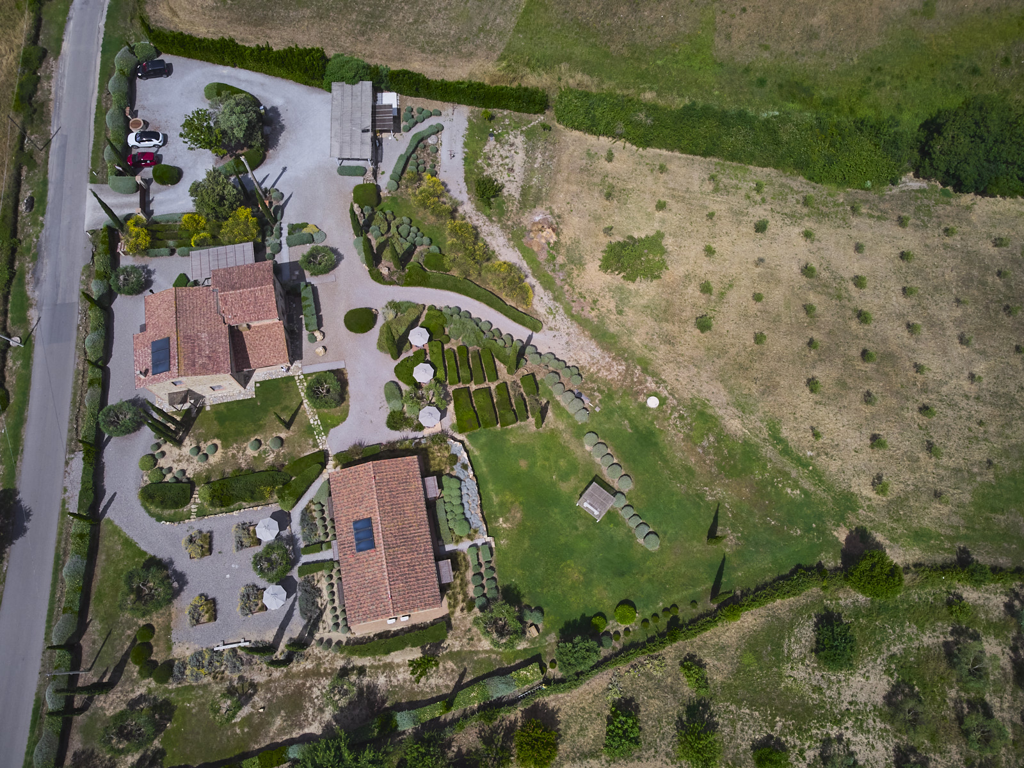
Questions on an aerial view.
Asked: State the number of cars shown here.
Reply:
3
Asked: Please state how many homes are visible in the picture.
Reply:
2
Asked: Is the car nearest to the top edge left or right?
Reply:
left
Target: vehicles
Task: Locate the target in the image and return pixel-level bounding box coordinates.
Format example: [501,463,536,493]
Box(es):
[127,150,160,170]
[129,129,166,150]
[138,58,170,79]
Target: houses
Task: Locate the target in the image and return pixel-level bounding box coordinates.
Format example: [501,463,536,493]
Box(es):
[132,259,291,397]
[329,456,442,627]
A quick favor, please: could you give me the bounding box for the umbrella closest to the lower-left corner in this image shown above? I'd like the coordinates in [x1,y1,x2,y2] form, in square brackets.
[263,586,287,609]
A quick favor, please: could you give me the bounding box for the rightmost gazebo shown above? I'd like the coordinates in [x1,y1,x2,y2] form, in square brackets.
[576,483,615,523]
